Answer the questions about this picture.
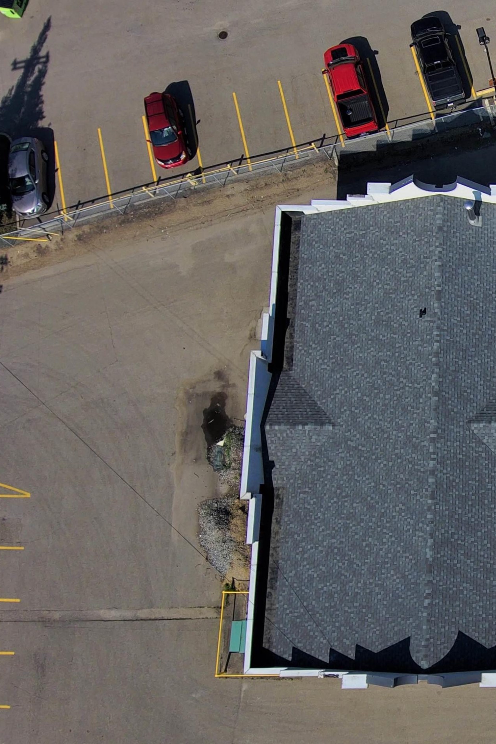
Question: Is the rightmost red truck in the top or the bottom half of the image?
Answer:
top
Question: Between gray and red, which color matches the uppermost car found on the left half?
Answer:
red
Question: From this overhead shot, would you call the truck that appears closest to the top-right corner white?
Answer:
No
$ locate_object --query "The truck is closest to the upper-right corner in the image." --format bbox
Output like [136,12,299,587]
[406,15,463,111]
